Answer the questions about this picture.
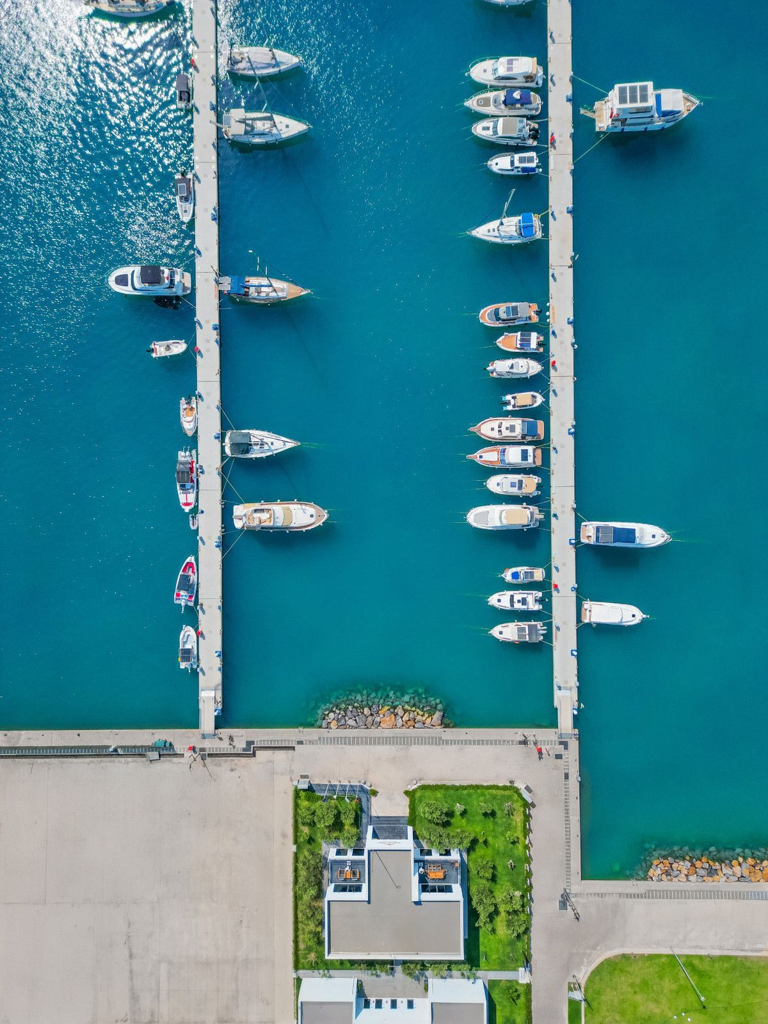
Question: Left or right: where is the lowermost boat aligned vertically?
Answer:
left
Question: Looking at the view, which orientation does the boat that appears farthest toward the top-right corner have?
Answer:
from side to side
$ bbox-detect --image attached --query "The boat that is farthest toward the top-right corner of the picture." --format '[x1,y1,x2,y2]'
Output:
[571,79,724,157]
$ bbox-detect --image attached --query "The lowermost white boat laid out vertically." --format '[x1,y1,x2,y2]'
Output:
[178,625,198,675]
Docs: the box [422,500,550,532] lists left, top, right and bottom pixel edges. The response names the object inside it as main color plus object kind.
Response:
white boat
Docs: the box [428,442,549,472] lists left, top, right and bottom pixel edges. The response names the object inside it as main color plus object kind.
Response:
white boat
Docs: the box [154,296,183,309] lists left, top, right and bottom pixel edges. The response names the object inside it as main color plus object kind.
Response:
black boat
